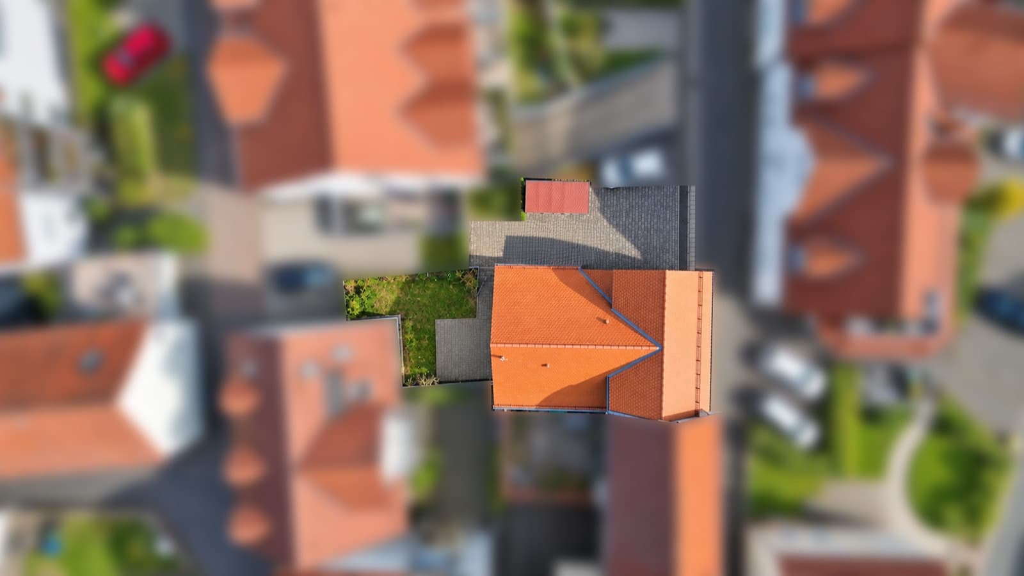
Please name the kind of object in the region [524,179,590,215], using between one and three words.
shed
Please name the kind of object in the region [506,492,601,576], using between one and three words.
building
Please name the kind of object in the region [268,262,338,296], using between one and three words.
car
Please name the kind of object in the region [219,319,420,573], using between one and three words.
house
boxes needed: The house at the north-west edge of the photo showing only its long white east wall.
[0,0,67,116]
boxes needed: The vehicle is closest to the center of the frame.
[597,154,667,189]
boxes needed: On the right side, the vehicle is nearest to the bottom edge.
[753,392,820,451]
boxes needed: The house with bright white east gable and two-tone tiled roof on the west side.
[0,316,201,480]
